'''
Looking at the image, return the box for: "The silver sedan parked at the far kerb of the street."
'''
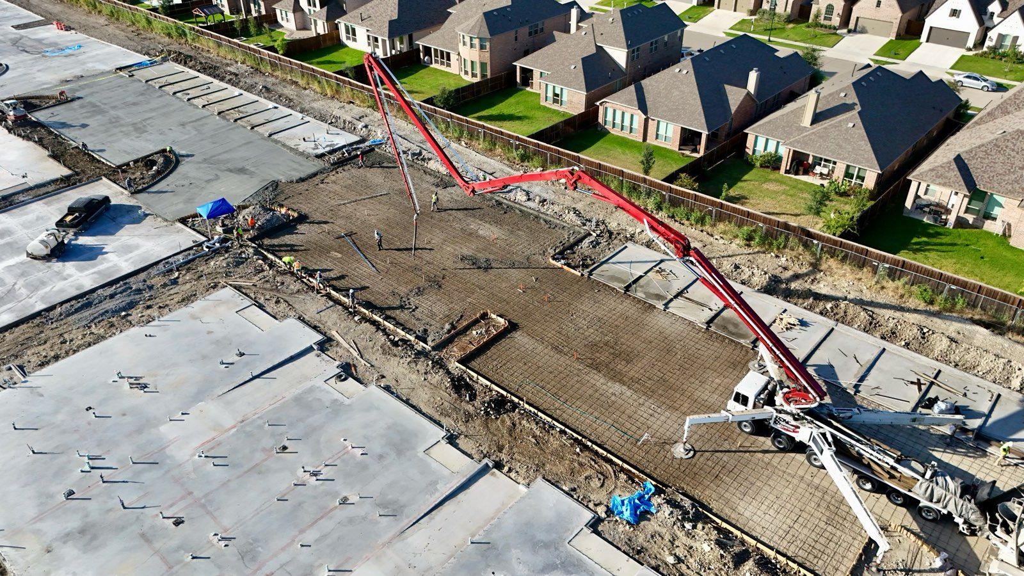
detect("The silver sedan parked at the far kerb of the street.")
[953,70,1004,91]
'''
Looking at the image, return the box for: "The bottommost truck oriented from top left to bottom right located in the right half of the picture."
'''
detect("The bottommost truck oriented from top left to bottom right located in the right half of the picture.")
[361,56,1011,576]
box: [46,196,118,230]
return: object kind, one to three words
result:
truck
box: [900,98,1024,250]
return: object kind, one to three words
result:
house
